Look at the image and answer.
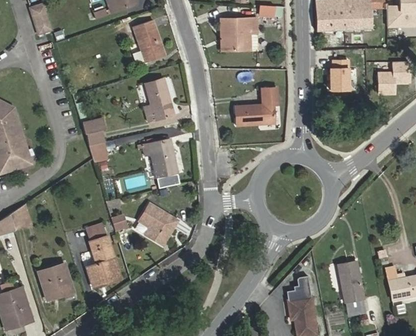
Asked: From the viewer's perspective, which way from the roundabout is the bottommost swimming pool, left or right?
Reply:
left of it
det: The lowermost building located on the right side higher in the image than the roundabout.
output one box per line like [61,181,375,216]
[235,86,280,126]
